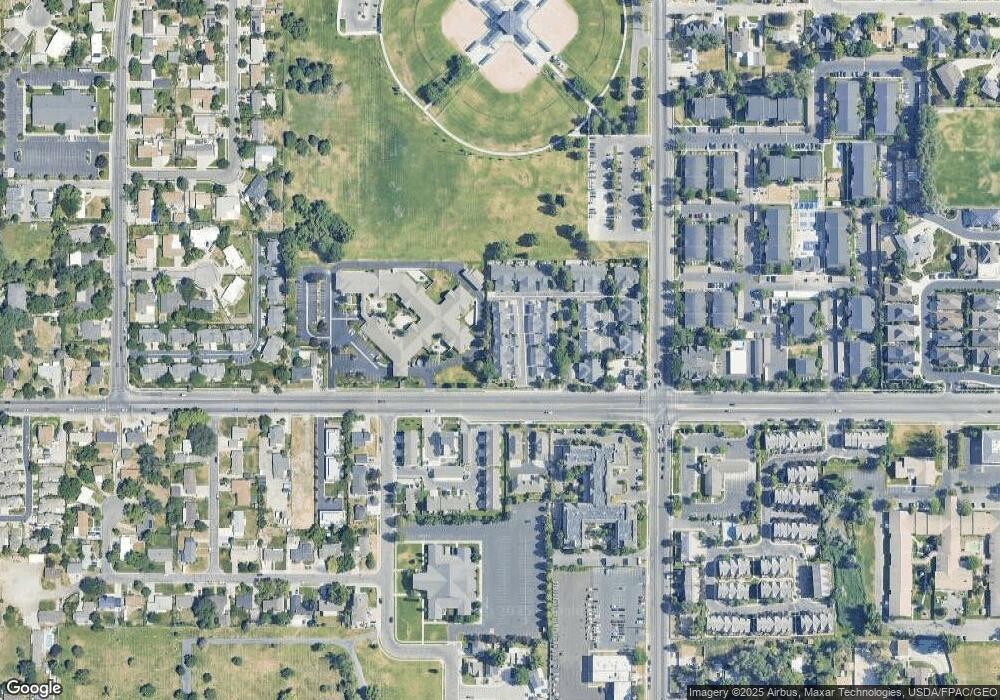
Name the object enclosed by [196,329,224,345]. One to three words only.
house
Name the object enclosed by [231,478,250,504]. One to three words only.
house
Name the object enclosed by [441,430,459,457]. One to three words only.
building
